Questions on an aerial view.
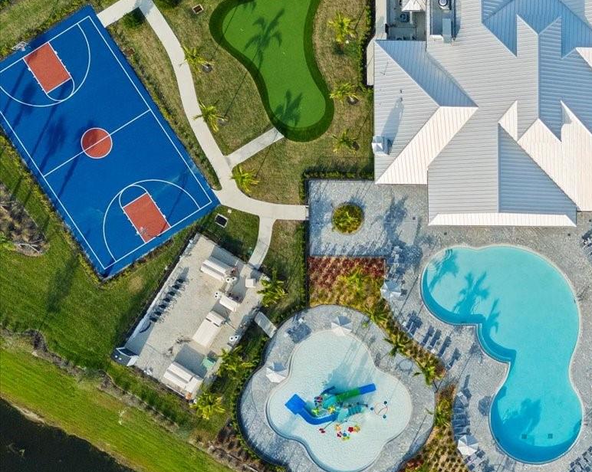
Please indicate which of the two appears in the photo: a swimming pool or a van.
swimming pool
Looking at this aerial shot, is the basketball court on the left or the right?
left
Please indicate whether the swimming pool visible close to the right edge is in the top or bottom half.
bottom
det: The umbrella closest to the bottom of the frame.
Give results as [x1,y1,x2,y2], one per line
[457,435,478,455]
